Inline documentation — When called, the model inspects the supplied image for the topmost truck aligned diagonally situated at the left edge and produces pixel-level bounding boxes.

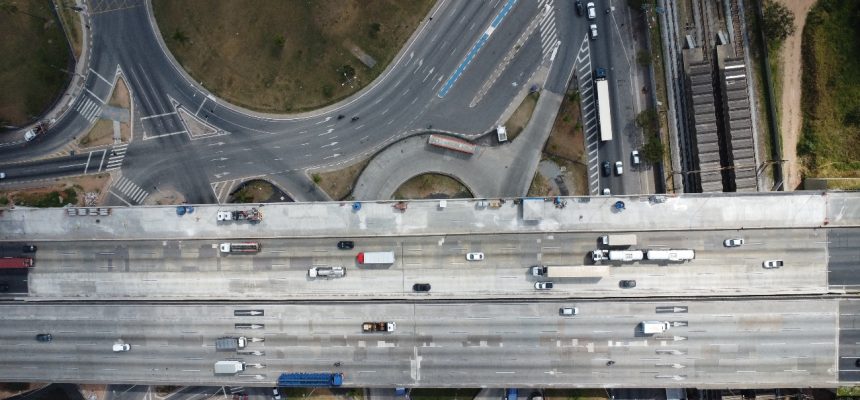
[21,118,57,143]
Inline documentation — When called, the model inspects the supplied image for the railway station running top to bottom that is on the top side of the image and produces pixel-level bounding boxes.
[680,31,757,194]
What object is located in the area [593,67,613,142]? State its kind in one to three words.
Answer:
vehicle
